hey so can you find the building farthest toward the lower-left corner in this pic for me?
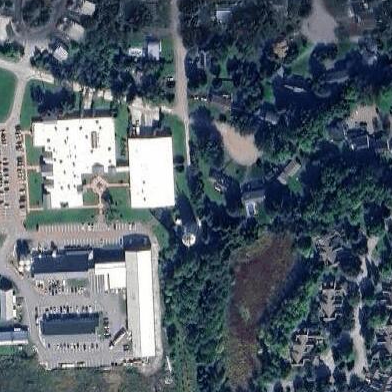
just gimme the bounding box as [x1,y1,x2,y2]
[0,329,27,345]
